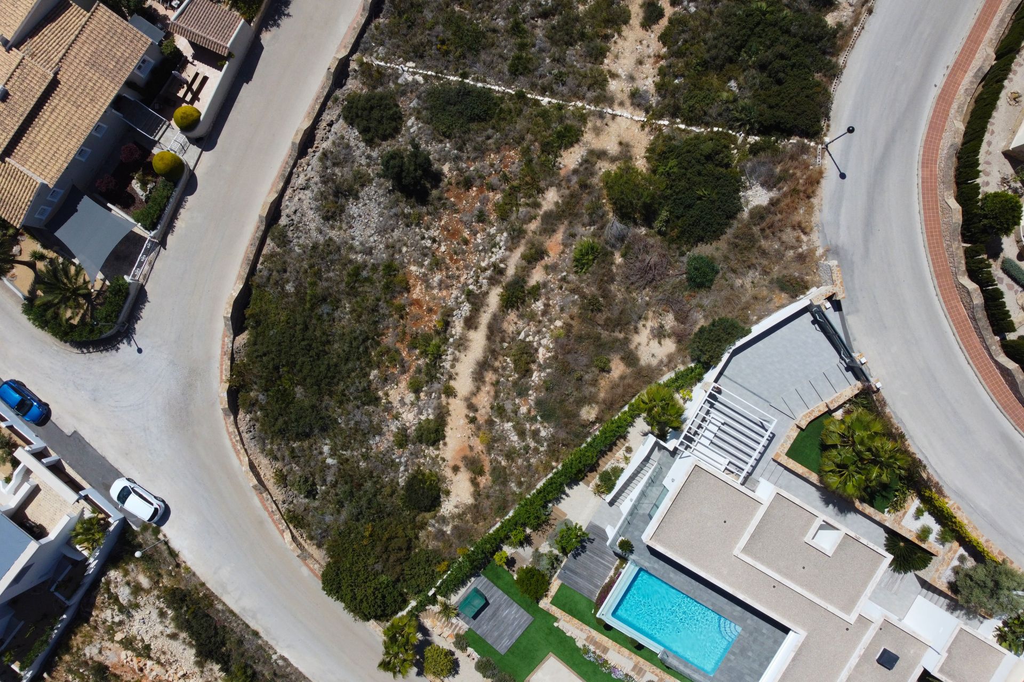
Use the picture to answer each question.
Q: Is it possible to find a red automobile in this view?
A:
No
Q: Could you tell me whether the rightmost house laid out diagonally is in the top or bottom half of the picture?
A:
bottom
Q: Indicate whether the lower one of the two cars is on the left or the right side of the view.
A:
left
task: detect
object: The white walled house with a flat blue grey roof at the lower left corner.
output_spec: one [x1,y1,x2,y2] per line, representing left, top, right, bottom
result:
[0,447,96,650]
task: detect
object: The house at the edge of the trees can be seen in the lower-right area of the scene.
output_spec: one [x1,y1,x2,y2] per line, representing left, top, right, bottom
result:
[633,451,1024,682]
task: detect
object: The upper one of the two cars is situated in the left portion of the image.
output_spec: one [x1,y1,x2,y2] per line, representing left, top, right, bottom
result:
[0,381,45,425]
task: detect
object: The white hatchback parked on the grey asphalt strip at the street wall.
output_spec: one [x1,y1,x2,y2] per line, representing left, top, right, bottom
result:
[106,479,160,525]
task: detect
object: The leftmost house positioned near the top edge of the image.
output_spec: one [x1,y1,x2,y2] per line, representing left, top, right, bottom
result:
[0,0,170,231]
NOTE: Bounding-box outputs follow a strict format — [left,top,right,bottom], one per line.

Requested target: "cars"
[0,381,45,425]
[106,479,160,525]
